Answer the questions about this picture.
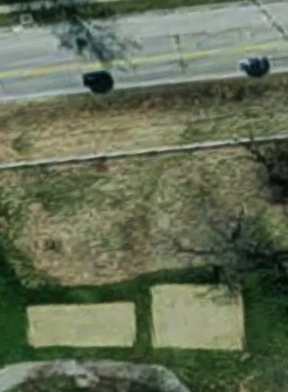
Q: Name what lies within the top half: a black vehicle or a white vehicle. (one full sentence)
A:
Looking within the top half, you will find a black vehicle.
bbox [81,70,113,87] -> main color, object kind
black car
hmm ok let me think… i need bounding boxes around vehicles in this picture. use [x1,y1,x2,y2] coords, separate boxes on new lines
[240,57,271,73]
[81,70,113,87]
